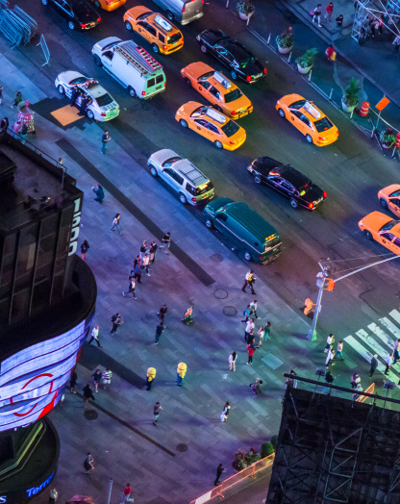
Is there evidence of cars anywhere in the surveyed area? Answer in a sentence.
Yes, the picture does show a car.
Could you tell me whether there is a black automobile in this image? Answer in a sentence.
Yes, I can see a black automobile in this picture.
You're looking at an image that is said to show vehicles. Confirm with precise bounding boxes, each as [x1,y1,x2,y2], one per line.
[144,151,221,214]
[51,71,125,129]
[170,104,252,158]
[192,30,273,89]
[88,37,171,105]
[178,64,257,125]
[355,216,400,267]
[269,96,345,152]
[374,186,400,227]
[152,0,206,22]
[83,0,130,18]
[38,0,107,40]
[201,198,289,271]
[245,158,331,219]
[120,7,187,59]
